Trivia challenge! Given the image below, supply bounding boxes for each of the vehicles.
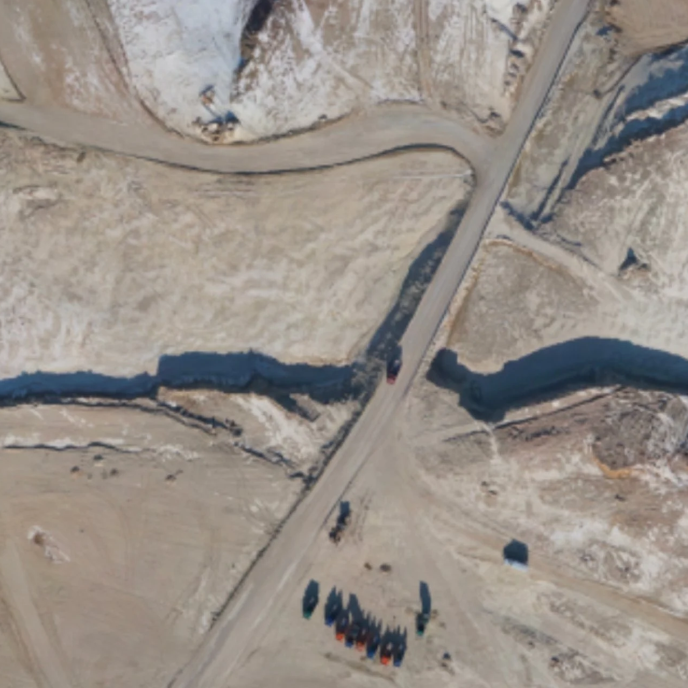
[393,643,407,669]
[333,522,348,546]
[382,642,395,668]
[326,601,340,628]
[346,619,360,649]
[367,634,381,660]
[388,360,402,386]
[302,595,318,621]
[335,617,349,642]
[356,628,369,654]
